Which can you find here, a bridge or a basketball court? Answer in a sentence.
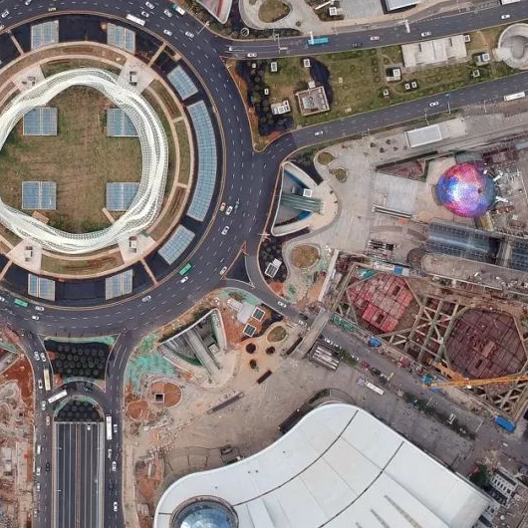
Of the two, only a bridge appears.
